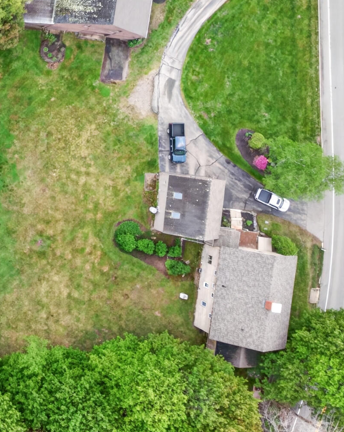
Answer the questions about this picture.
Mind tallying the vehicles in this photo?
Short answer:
two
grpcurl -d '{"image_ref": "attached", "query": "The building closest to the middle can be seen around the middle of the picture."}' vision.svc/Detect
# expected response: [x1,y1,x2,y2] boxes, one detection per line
[152,175,226,241]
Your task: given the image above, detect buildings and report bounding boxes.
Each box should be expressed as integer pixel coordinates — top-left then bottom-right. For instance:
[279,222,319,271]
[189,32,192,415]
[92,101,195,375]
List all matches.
[195,243,297,352]
[44,0,154,39]
[152,175,226,241]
